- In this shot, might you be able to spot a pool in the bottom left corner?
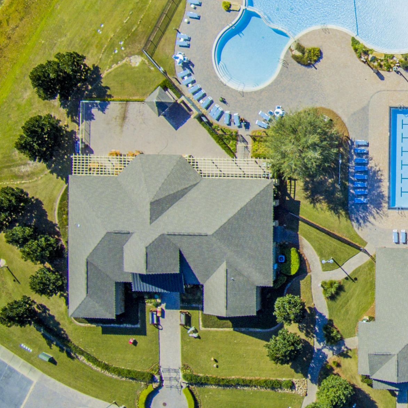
No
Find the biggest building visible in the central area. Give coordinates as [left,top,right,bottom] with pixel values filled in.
[69,154,280,318]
